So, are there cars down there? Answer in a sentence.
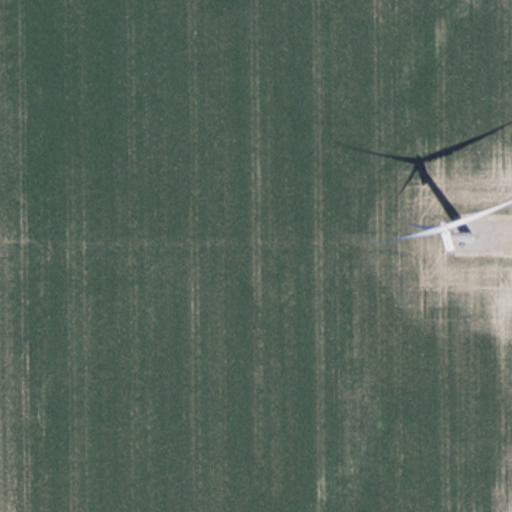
No, I can't see a single car in this photo.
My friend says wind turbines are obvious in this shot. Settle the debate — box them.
[372,200,512,250]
